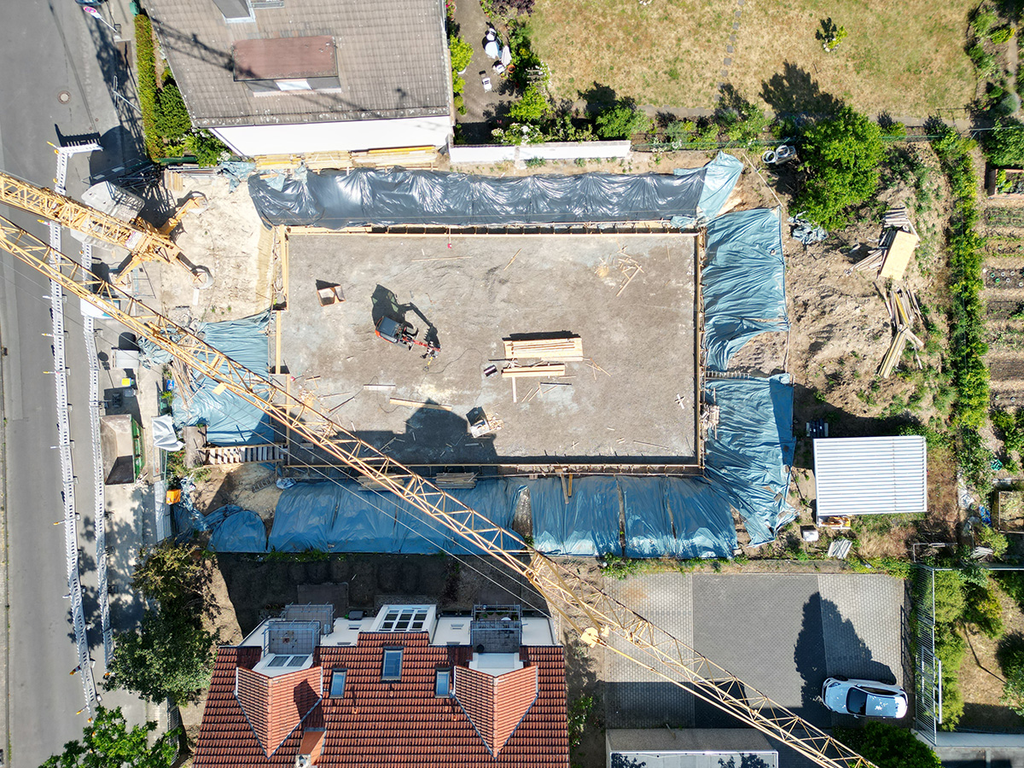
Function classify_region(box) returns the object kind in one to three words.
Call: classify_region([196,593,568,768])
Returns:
house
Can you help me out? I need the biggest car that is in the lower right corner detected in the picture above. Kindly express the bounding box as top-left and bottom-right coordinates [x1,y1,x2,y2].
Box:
[817,670,908,720]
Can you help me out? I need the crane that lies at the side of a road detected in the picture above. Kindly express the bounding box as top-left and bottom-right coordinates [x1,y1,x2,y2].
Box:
[0,176,879,768]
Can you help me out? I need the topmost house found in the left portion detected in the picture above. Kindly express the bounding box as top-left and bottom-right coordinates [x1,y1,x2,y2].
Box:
[131,0,458,157]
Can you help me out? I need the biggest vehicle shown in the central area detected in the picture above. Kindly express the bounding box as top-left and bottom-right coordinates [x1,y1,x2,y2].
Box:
[371,313,442,361]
